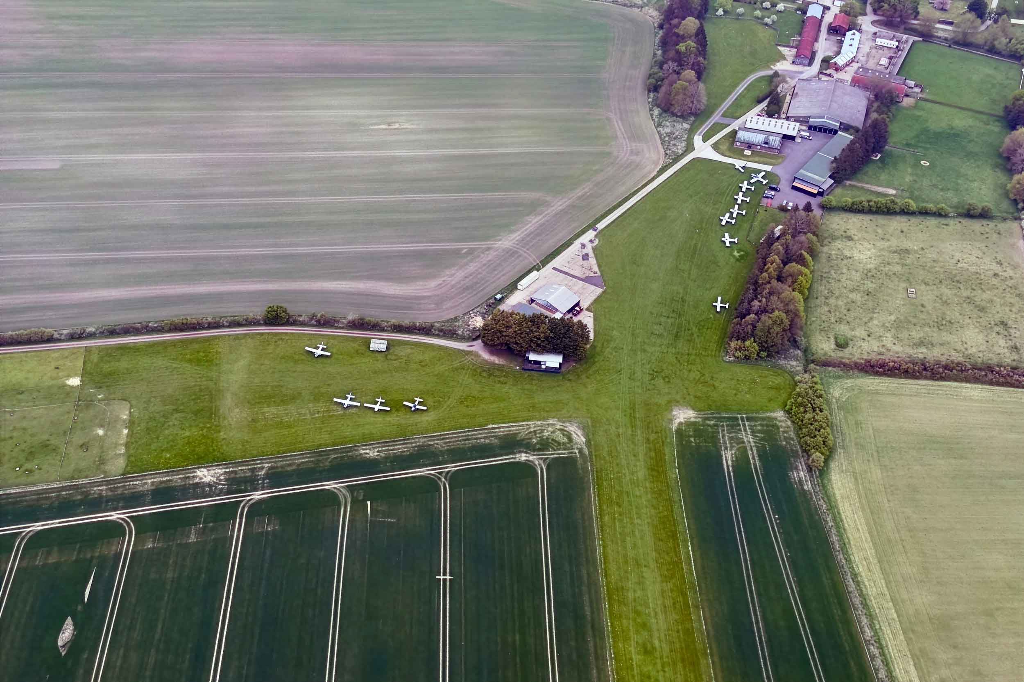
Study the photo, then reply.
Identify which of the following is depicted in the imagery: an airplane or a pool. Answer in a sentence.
There is an airplane in the scene.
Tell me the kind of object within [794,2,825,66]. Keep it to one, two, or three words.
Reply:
barn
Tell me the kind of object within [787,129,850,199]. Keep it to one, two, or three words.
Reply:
hangar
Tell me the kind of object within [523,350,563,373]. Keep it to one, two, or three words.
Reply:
building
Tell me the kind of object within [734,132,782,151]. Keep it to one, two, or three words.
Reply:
shed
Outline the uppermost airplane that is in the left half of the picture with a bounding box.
[305,342,332,357]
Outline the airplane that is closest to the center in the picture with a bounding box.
[403,396,427,410]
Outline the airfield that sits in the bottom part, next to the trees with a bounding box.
[2,159,791,682]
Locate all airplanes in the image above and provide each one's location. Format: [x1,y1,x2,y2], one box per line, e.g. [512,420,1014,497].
[751,172,767,182]
[364,397,390,413]
[305,342,332,357]
[403,396,427,410]
[721,213,734,224]
[713,297,728,312]
[333,392,361,409]
[722,233,736,246]
[730,205,744,217]
[734,163,746,172]
[741,181,753,191]
[735,192,748,204]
